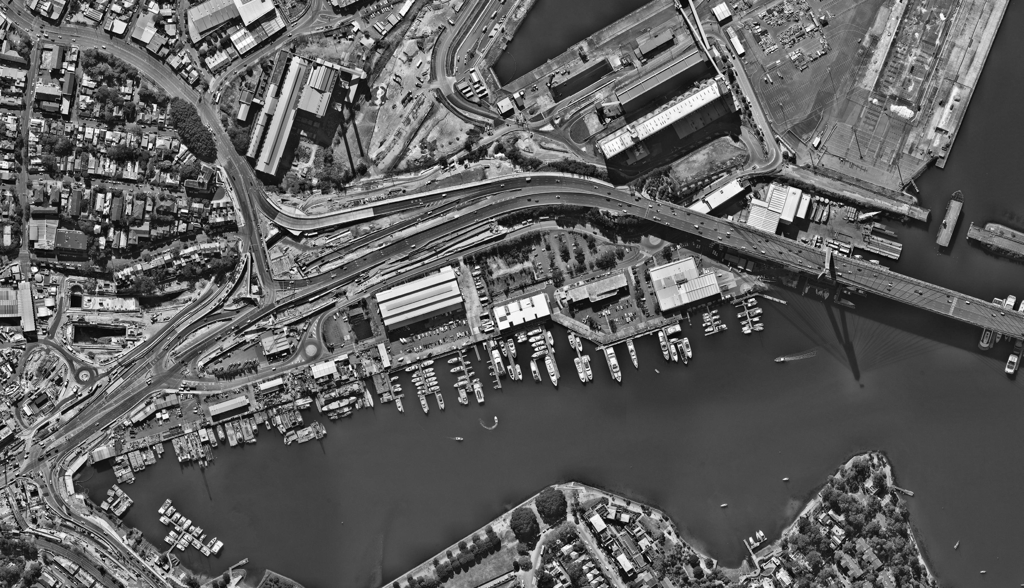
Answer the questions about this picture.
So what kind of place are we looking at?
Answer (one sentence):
This looks like a port.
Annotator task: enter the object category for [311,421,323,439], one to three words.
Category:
ship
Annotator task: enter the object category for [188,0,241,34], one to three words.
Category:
building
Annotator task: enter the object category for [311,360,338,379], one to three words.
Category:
shed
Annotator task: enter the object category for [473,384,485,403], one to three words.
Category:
boat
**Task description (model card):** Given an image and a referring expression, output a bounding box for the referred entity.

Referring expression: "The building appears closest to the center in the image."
[493,292,551,330]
